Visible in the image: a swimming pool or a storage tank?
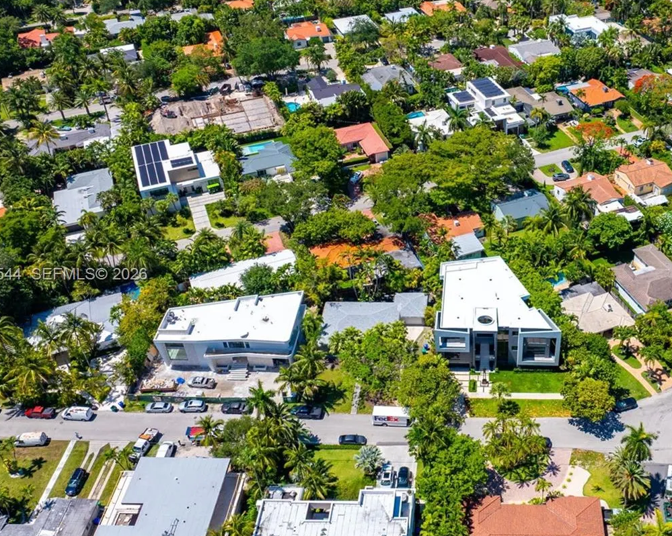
swimming pool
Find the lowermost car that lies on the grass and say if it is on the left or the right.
left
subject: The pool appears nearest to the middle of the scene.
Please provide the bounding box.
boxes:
[242,139,278,153]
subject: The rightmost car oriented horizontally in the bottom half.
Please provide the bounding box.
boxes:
[612,397,640,412]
